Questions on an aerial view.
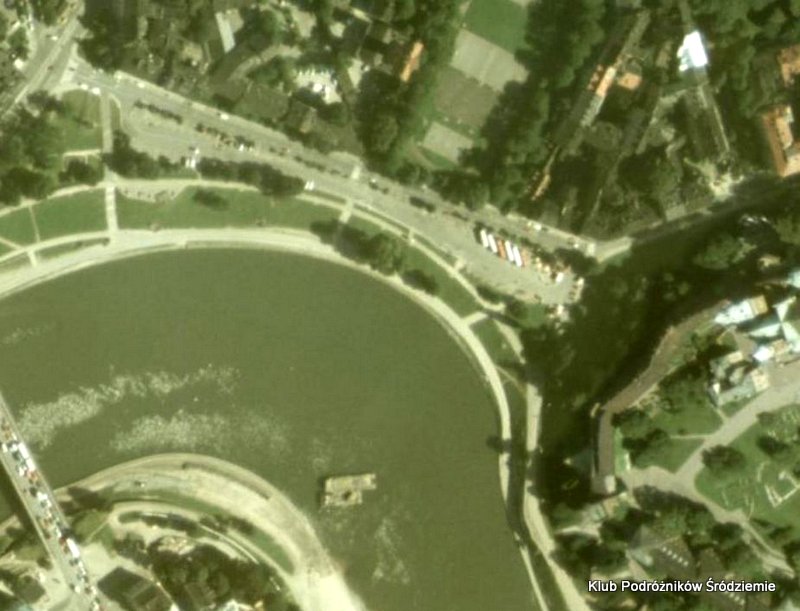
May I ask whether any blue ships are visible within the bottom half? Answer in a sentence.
No, looking within the bottom half, there is no blue ship.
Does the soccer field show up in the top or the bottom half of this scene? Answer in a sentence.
Seen from above, the soccer field lies in the top half of the view.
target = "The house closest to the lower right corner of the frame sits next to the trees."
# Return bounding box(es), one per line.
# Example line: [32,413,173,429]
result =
[703,553,764,611]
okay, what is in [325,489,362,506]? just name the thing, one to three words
ship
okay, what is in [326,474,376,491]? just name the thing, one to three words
ship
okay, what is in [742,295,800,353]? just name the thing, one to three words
building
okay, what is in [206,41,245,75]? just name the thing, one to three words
house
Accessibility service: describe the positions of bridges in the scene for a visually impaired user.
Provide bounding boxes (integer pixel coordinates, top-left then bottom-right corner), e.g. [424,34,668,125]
[0,389,109,611]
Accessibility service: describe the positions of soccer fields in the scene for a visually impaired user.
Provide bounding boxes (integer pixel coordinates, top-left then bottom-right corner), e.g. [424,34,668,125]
[463,0,530,51]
